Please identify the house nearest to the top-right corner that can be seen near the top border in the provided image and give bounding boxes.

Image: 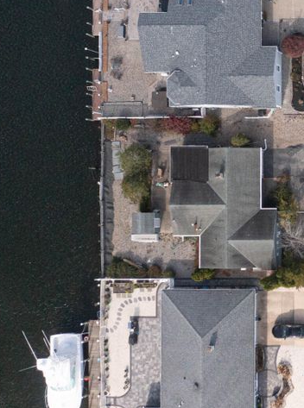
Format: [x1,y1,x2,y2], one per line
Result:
[138,0,283,109]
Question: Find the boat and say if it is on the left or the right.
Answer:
left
